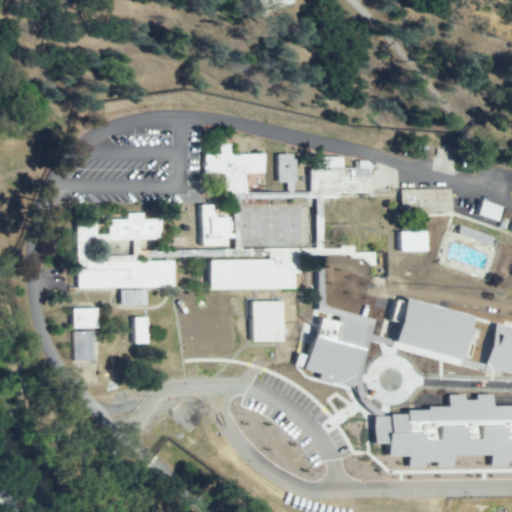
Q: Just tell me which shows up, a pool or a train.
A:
pool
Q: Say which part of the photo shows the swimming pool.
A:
right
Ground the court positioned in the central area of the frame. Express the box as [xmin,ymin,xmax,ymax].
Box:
[244,205,301,247]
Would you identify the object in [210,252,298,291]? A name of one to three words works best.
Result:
building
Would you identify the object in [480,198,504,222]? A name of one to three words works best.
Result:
shed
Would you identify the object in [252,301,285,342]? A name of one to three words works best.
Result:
building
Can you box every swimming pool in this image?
[438,228,497,279]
